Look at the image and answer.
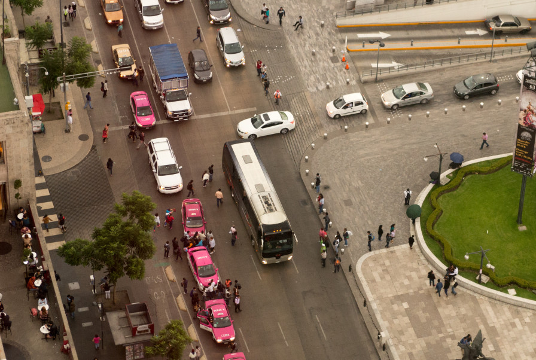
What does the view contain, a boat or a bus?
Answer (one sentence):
The one in the frame is a bus.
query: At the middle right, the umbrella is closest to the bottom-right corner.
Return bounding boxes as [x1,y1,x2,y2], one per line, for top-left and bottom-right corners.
[405,207,423,220]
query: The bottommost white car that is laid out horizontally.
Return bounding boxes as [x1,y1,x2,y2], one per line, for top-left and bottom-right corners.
[237,112,296,139]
